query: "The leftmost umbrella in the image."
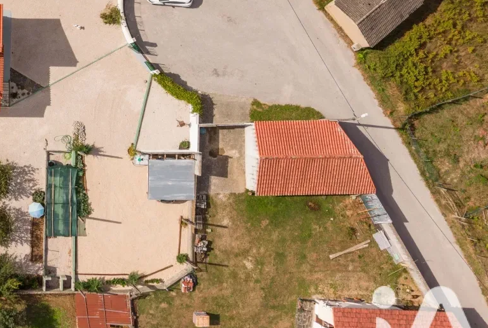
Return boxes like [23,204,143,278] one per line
[29,202,44,217]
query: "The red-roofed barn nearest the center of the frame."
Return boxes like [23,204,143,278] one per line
[248,119,376,196]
